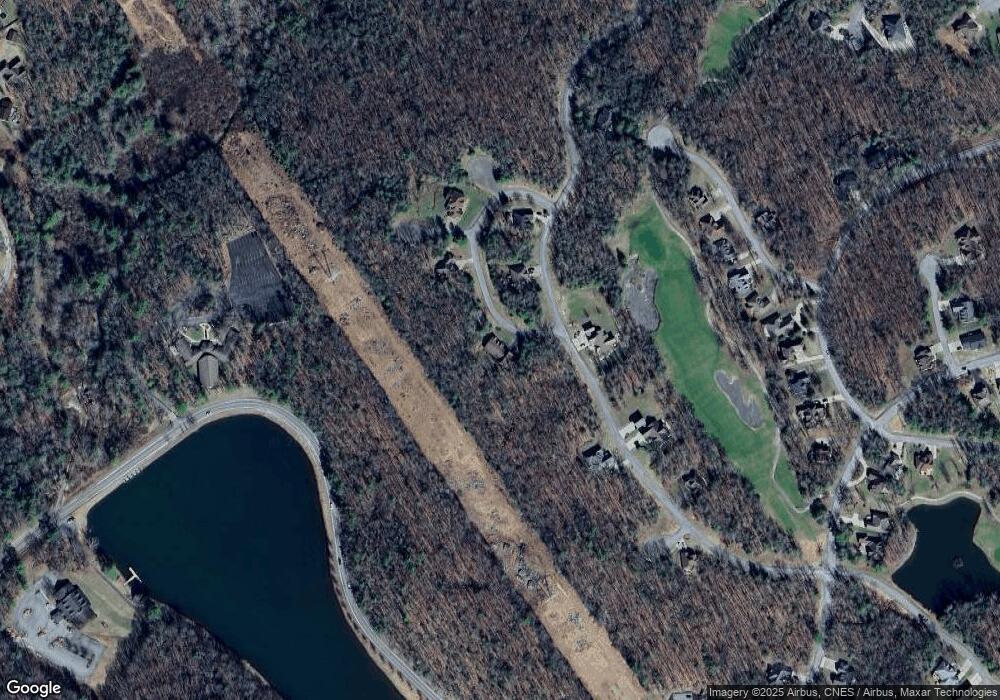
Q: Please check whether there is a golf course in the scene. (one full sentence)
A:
Yes, the photo shows a golf course.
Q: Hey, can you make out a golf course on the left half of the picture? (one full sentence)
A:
No, there is no golf course on the left half of the picture.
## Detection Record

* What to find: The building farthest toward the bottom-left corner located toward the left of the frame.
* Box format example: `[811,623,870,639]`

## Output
[44,579,94,626]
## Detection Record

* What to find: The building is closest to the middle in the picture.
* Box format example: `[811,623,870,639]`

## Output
[478,333,510,361]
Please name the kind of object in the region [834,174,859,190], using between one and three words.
house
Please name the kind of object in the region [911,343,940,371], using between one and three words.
house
